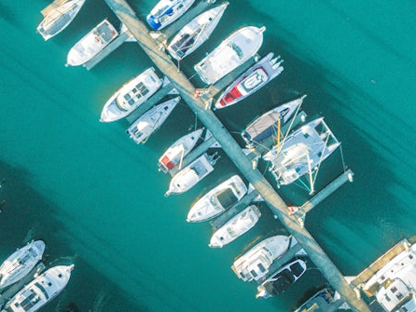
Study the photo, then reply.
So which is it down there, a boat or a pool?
boat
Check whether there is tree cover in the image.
No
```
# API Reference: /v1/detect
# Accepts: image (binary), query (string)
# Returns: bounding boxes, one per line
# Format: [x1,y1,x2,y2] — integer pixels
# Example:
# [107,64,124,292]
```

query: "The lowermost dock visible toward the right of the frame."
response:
[323,283,358,312]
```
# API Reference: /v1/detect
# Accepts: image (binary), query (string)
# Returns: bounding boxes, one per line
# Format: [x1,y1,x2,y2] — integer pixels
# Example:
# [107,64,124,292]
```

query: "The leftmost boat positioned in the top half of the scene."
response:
[37,0,90,39]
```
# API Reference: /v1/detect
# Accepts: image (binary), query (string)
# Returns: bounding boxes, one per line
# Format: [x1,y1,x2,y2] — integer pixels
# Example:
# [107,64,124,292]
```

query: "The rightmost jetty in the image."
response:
[345,236,408,291]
